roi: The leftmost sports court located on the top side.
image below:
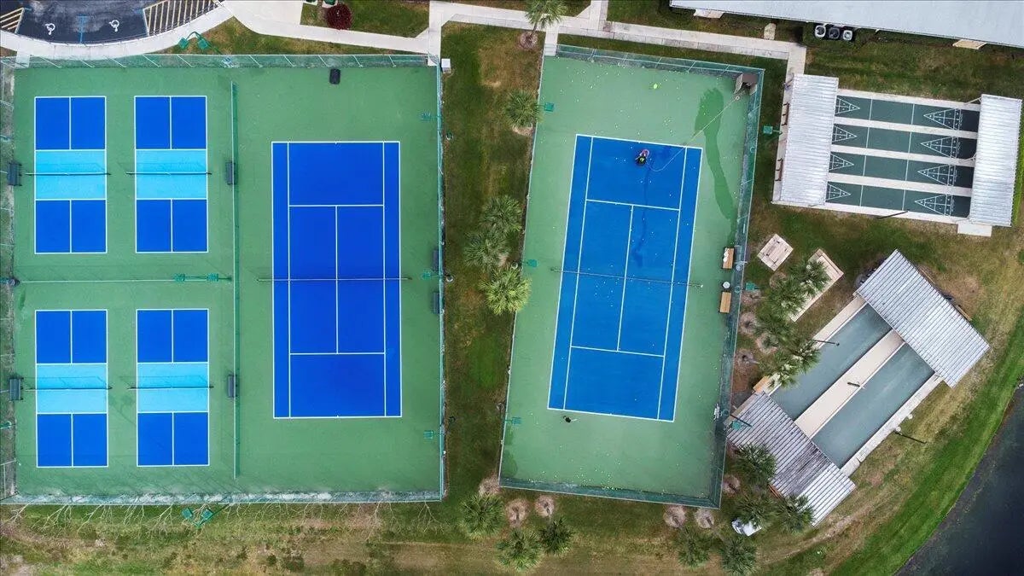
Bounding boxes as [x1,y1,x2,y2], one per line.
[34,96,107,253]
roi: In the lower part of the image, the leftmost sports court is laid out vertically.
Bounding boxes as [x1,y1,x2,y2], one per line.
[35,310,108,467]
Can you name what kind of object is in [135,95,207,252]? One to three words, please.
sports court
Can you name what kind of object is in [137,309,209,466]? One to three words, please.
sports court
